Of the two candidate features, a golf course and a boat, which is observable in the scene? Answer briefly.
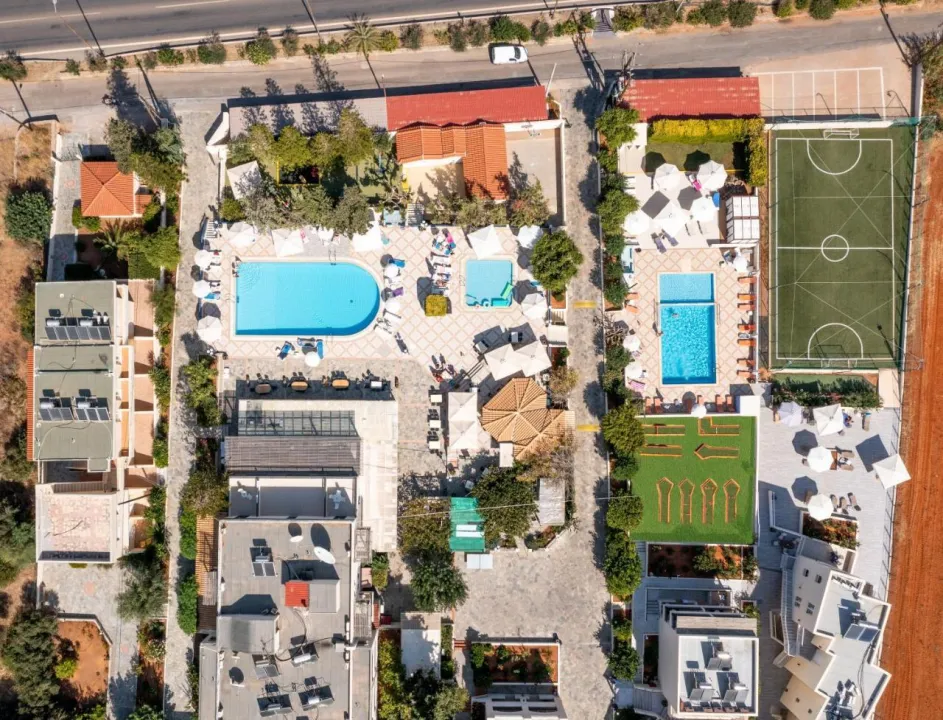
golf course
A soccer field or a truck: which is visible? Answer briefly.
soccer field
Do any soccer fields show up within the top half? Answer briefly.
Yes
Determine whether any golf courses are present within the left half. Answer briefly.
No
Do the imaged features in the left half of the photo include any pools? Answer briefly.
Yes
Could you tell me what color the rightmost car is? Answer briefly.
white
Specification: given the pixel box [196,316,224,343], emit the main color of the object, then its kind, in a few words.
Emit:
white umbrella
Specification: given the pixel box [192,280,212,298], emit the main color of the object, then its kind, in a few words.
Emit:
white umbrella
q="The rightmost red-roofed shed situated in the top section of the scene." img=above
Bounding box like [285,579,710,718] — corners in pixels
[626,77,760,128]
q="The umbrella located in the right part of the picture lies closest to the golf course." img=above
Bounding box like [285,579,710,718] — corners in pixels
[690,401,705,418]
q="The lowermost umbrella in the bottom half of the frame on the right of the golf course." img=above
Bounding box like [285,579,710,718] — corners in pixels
[805,493,832,519]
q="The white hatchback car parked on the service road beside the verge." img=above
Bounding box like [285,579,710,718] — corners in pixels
[491,41,528,63]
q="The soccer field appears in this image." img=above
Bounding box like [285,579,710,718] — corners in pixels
[769,113,933,371]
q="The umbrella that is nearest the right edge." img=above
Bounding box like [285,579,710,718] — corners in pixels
[871,451,912,492]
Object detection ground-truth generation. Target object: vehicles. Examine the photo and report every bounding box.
[491,41,528,63]
[99,93,114,103]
